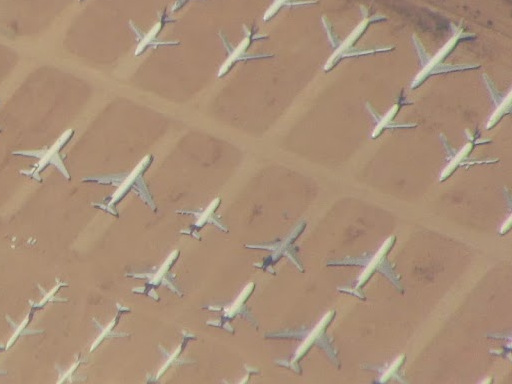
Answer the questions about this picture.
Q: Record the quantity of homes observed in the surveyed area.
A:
0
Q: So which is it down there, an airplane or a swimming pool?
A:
airplane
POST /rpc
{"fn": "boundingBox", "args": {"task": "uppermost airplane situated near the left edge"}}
[12,129,73,181]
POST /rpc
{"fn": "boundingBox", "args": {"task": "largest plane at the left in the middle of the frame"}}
[82,154,157,217]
